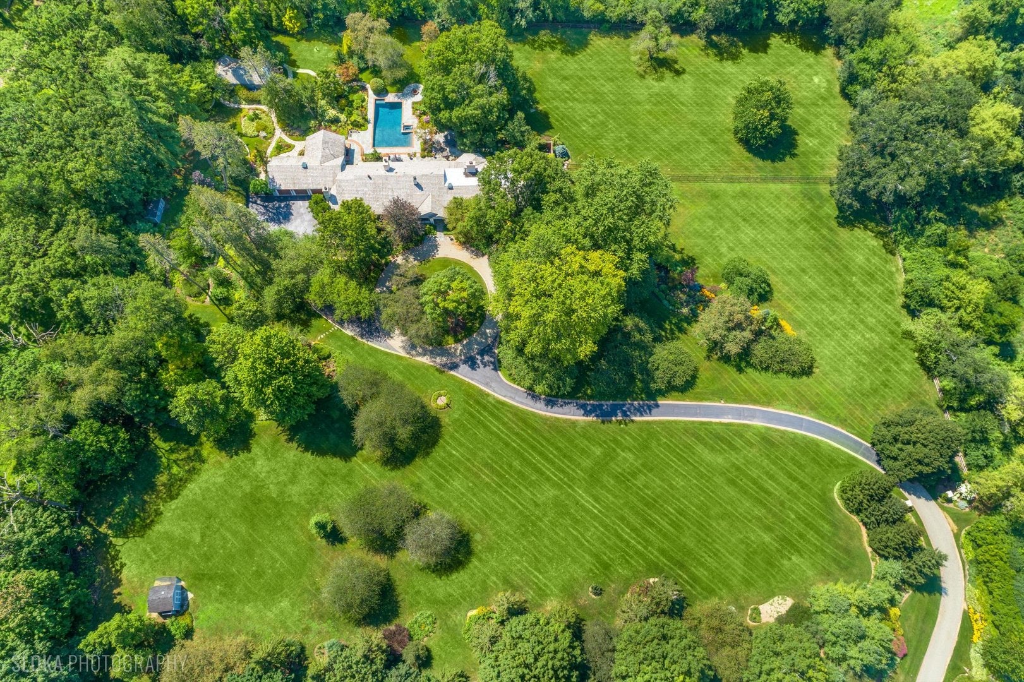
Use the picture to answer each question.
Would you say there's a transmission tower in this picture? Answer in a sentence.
No, no transmission tower is visible in the view.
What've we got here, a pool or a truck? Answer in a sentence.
It is a pool that can be seen here.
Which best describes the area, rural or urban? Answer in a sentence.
It looks rural.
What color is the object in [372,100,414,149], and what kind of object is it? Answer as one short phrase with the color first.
blue swimming pool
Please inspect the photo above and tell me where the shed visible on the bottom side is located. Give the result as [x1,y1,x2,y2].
[144,574,190,614]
